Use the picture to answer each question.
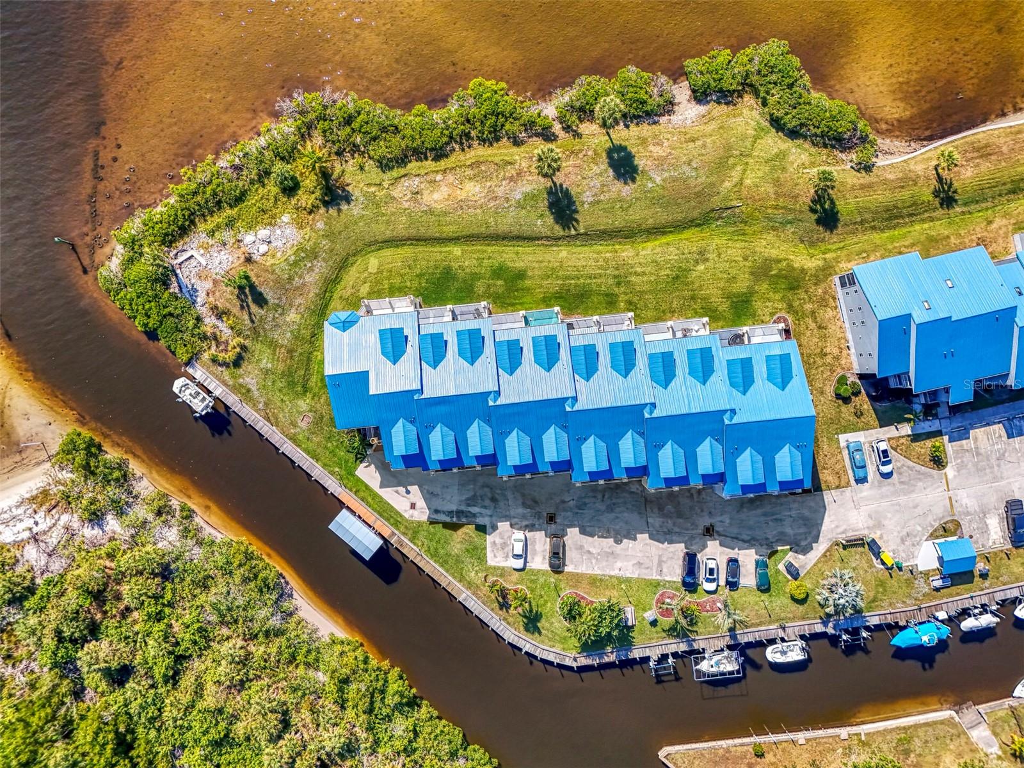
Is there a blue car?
Yes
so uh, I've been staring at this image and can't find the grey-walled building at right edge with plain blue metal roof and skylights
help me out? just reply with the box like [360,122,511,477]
[838,231,1024,405]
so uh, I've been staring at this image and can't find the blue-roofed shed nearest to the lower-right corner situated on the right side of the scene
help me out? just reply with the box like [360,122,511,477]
[924,532,976,574]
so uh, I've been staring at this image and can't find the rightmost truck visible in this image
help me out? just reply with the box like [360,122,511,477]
[1000,497,1024,549]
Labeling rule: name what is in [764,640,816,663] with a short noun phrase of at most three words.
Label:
boat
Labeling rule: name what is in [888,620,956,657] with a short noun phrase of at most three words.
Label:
boat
